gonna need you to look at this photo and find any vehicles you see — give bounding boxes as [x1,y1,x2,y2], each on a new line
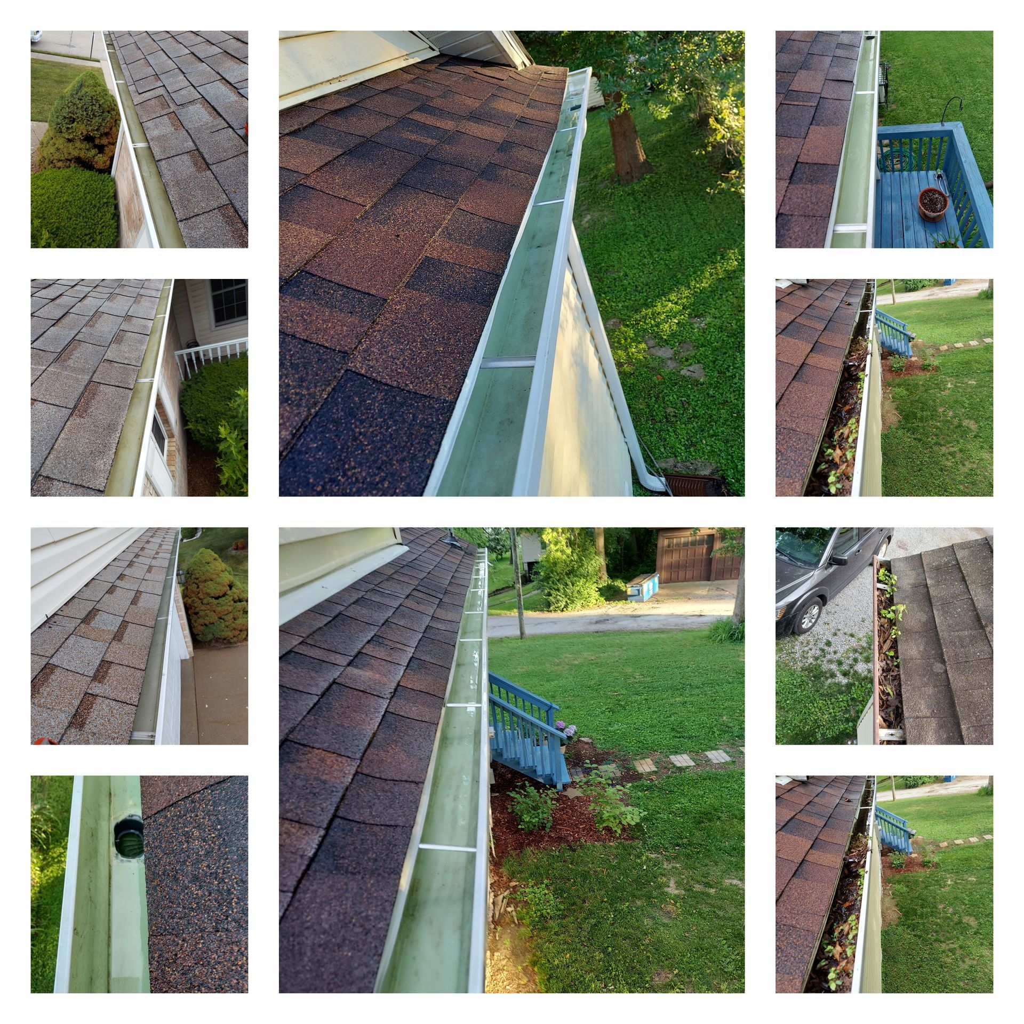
[30,30,46,40]
[775,527,905,643]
